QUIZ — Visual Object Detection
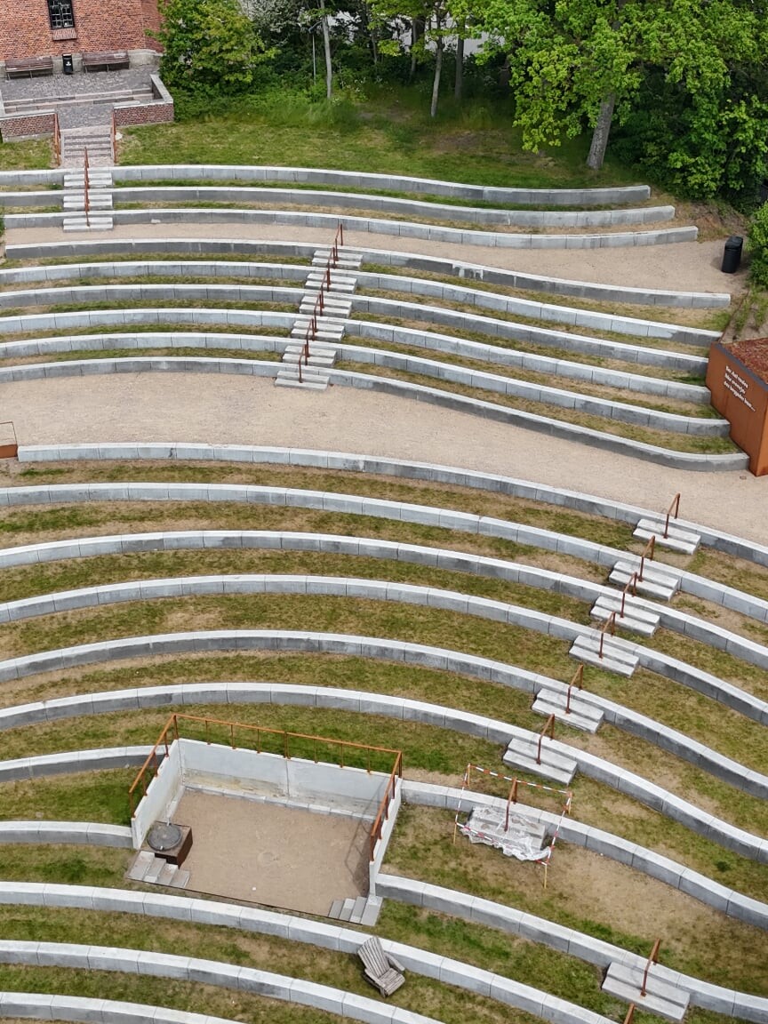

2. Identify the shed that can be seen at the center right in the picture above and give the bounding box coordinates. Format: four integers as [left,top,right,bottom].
[702,332,768,474]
